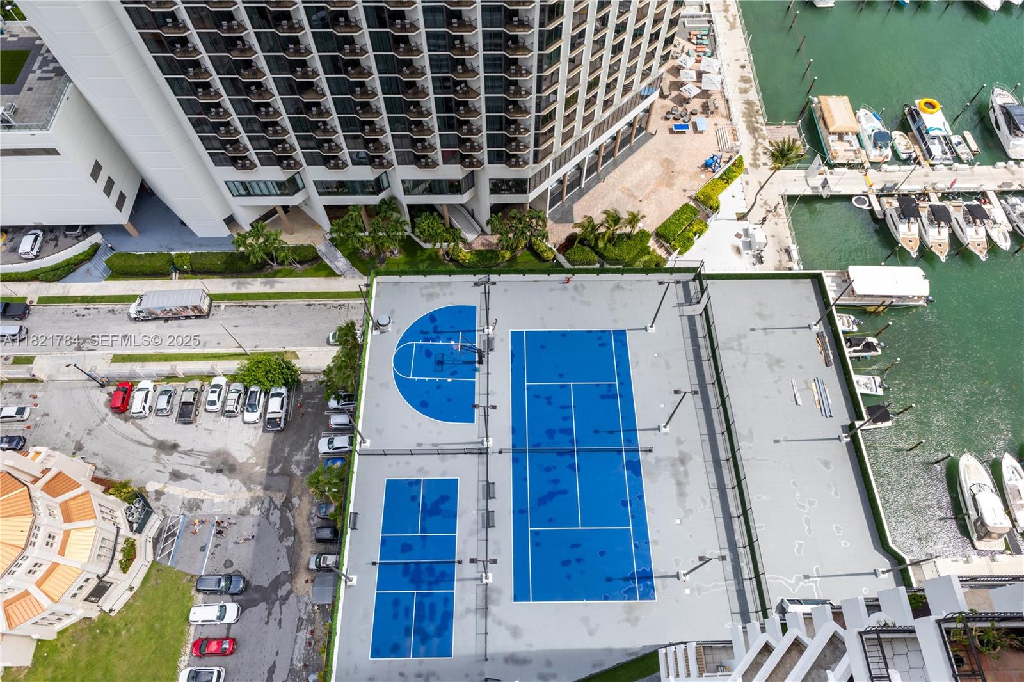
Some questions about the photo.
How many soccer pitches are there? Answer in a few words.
0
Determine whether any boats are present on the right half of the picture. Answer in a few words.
Yes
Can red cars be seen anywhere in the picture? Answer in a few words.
Yes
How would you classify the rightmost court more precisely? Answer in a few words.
tennis court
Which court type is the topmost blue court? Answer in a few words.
basketball court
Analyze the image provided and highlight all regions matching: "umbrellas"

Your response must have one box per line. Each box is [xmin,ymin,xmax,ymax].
[675,55,698,71]
[700,76,722,99]
[679,71,697,86]
[697,58,724,75]
[679,84,702,107]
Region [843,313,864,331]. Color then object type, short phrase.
white boat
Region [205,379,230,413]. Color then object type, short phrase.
white car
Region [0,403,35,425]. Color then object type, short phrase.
white car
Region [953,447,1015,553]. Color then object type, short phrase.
white boat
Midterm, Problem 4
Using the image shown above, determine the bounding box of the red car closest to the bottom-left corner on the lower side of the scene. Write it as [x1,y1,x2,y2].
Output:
[192,636,240,659]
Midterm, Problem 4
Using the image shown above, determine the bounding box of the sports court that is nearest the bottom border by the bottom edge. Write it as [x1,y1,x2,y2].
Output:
[370,478,459,660]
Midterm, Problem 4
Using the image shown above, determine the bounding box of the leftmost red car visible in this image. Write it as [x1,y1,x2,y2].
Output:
[113,383,138,414]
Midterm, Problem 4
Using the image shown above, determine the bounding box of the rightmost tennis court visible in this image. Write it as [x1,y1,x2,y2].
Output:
[510,329,657,605]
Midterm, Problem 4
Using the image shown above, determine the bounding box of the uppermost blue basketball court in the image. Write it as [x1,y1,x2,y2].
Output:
[392,304,477,424]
